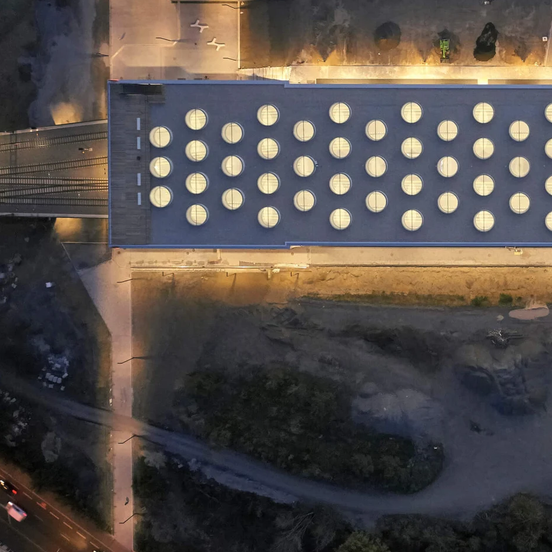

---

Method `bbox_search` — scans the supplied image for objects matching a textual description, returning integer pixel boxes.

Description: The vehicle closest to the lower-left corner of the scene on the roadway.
[2,504,25,521]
